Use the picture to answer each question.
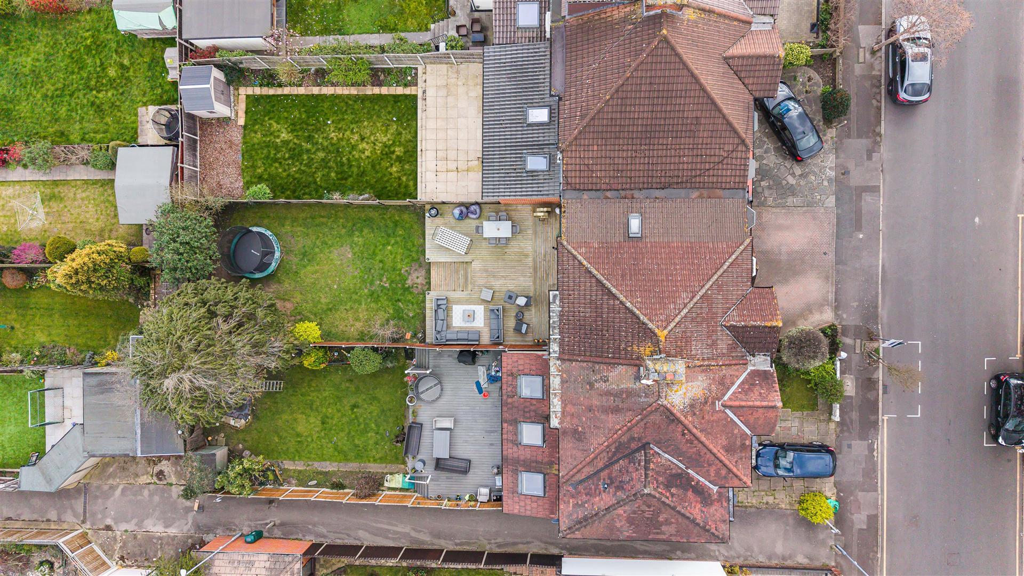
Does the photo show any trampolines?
Yes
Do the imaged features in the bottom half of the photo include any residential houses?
Yes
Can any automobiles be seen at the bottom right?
Yes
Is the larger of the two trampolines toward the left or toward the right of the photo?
left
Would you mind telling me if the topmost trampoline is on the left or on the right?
left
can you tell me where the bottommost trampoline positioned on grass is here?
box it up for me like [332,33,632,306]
[217,222,295,278]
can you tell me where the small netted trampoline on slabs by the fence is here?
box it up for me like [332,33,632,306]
[144,104,180,139]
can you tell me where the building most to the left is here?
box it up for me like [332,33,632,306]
[19,424,104,492]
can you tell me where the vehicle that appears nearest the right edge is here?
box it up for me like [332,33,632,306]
[987,373,1024,444]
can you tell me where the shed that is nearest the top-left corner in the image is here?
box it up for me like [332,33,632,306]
[111,0,181,41]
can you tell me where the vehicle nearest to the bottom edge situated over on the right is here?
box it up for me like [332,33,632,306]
[753,439,832,479]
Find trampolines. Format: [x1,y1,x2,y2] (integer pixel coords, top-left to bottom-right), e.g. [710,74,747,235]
[217,222,295,278]
[144,104,180,139]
